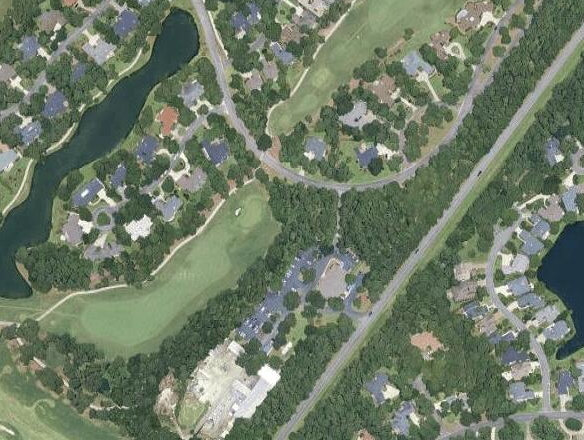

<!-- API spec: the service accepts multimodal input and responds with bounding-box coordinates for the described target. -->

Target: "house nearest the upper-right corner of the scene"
[458,0,496,31]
